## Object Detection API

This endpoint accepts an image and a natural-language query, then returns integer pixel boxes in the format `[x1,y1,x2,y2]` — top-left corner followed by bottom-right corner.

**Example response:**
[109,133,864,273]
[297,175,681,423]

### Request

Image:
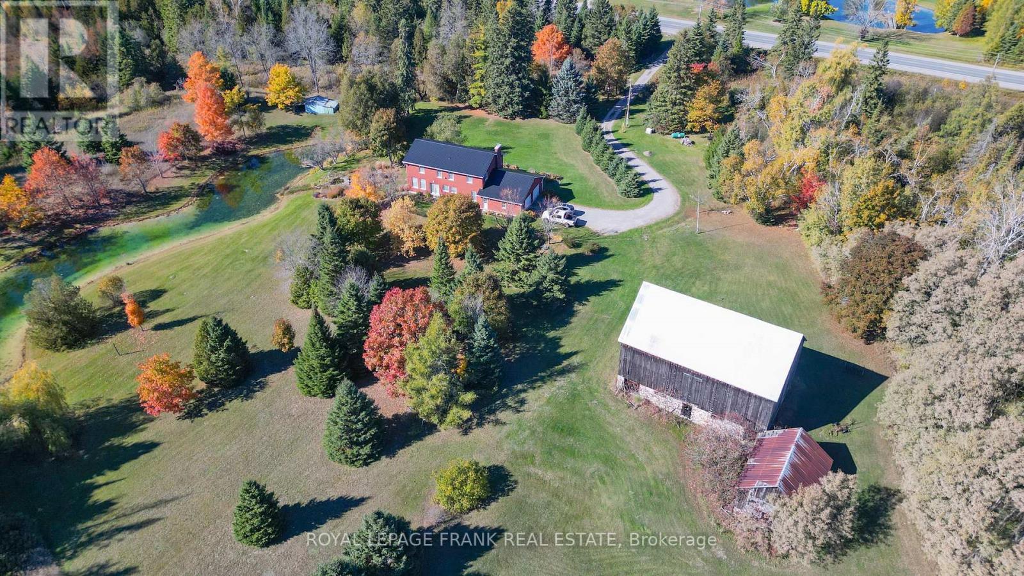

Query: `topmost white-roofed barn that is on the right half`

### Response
[617,279,805,450]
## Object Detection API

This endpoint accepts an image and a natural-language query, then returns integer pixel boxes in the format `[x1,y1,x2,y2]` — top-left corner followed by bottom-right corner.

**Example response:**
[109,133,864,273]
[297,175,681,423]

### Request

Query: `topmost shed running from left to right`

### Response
[293,95,339,113]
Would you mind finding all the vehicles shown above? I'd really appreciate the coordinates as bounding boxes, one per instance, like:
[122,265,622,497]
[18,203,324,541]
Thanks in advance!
[540,210,576,227]
[546,201,573,214]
